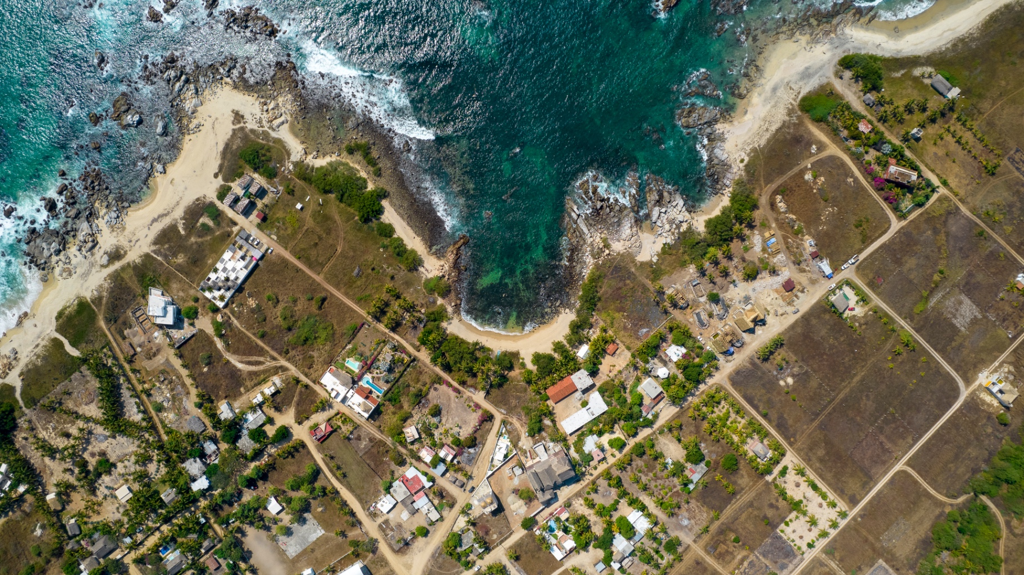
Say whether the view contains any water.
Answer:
Yes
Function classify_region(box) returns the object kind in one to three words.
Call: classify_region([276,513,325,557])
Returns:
sports court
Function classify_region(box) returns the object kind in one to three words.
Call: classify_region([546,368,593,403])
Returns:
barn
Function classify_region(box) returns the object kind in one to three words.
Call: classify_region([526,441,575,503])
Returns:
building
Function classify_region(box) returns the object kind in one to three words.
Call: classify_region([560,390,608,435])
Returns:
house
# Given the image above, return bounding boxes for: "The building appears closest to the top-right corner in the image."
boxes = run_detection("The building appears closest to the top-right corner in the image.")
[929,74,961,100]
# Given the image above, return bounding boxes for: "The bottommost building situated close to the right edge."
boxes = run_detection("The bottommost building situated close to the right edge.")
[981,376,1020,408]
